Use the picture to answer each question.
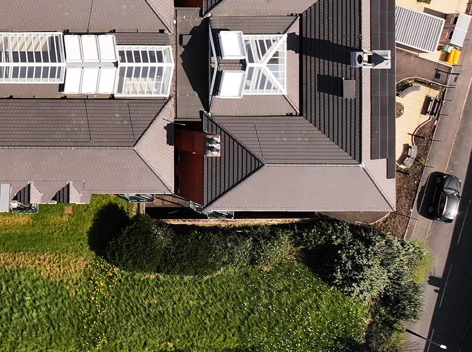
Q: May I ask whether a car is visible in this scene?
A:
Yes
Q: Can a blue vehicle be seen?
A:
No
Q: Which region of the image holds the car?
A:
right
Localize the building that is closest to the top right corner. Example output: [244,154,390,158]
[435,13,472,47]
